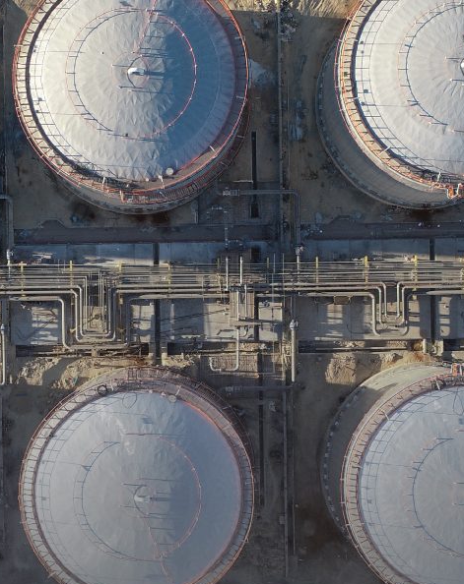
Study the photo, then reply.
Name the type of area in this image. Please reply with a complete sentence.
This image shows an industrial area.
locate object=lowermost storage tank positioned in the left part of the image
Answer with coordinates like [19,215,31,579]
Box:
[20,365,253,584]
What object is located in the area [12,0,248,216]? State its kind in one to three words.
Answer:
storage tank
